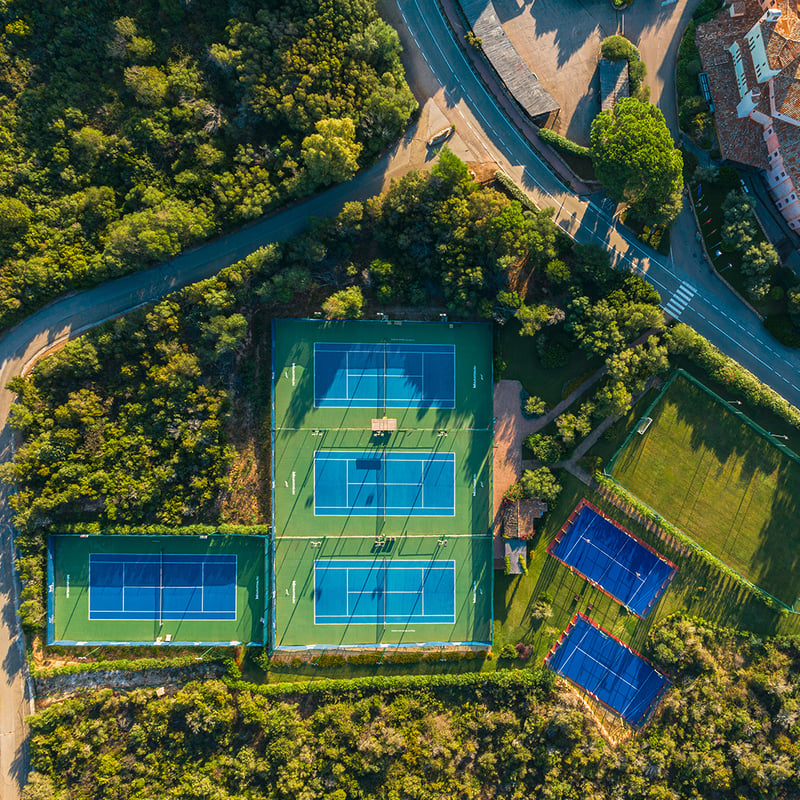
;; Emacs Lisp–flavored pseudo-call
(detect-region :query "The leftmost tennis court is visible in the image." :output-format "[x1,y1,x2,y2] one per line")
[54,538,267,644]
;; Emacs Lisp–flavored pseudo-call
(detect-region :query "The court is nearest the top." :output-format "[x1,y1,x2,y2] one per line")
[275,322,491,429]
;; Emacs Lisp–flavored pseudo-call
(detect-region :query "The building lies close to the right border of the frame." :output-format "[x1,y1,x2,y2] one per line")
[695,0,800,252]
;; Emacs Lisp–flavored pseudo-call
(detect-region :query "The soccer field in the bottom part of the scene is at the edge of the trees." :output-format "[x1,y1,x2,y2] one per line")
[607,374,800,609]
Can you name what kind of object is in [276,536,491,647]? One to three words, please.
tennis court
